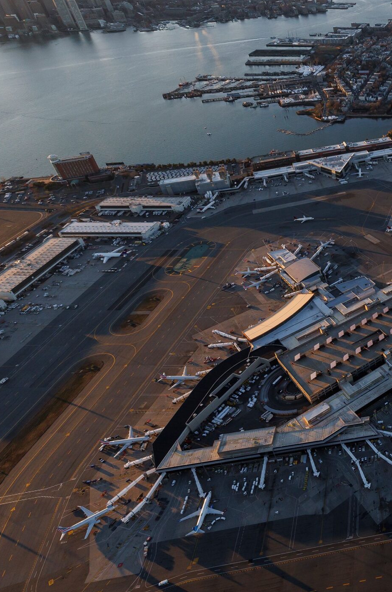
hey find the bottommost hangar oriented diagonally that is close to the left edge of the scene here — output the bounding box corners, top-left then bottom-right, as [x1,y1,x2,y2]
[0,237,87,300]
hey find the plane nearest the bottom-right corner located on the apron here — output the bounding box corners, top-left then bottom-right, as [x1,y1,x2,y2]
[177,491,221,533]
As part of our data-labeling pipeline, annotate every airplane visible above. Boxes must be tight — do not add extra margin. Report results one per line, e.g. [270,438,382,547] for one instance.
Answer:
[236,266,259,276]
[244,280,268,289]
[59,505,118,537]
[92,244,133,263]
[292,215,315,223]
[196,202,214,211]
[177,491,221,533]
[99,424,152,455]
[316,236,335,250]
[155,361,199,389]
